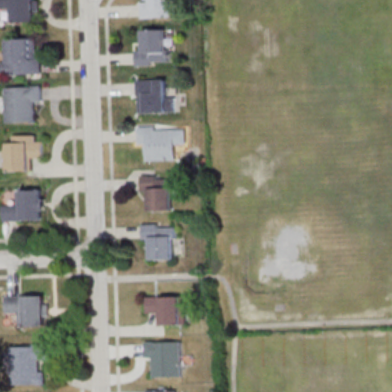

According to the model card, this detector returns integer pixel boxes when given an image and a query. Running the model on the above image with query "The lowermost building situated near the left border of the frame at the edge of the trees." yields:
[9,347,42,386]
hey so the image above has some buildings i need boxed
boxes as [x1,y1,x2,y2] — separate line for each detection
[136,79,176,112]
[140,176,172,210]
[3,86,42,122]
[0,38,40,74]
[9,347,42,386]
[3,296,46,326]
[0,190,42,221]
[141,224,176,261]
[1,134,44,172]
[136,126,186,162]
[144,341,184,378]
[0,0,37,20]
[144,296,184,325]
[134,29,170,65]
[138,0,170,19]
